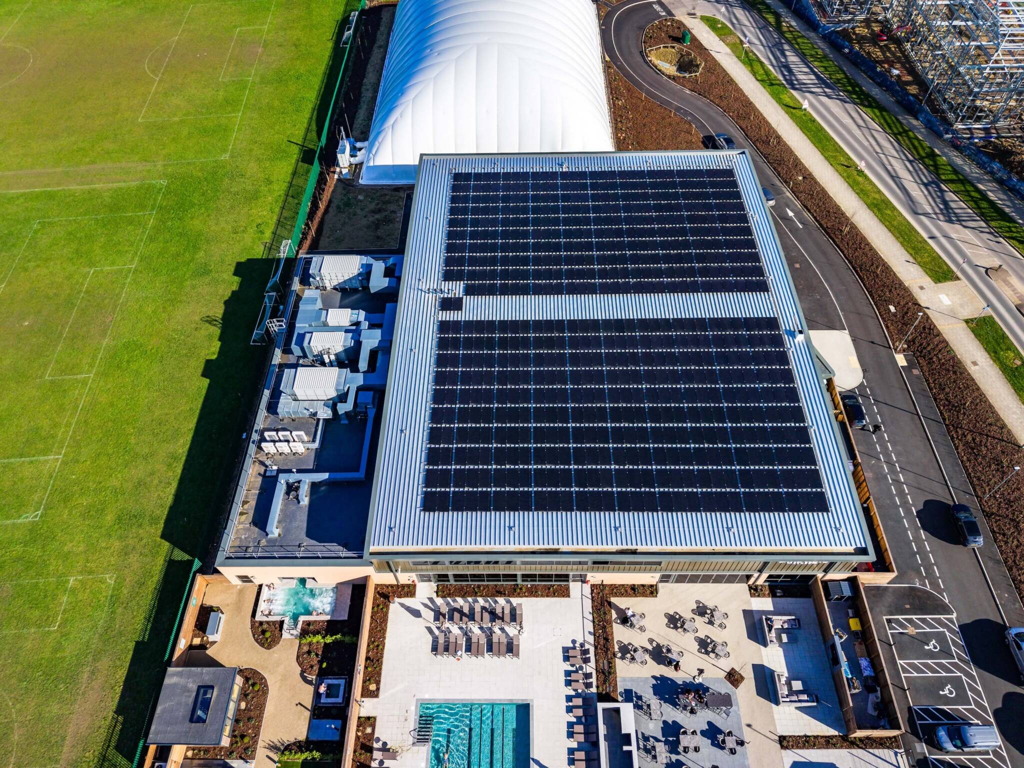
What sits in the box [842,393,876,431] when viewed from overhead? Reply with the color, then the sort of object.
black car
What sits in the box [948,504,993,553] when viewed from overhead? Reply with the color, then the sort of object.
black car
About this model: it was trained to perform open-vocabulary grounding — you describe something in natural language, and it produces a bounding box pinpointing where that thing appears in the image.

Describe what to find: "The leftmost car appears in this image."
[708,135,735,152]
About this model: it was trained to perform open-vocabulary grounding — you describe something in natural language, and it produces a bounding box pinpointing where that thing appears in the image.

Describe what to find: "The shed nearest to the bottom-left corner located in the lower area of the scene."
[146,667,242,747]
